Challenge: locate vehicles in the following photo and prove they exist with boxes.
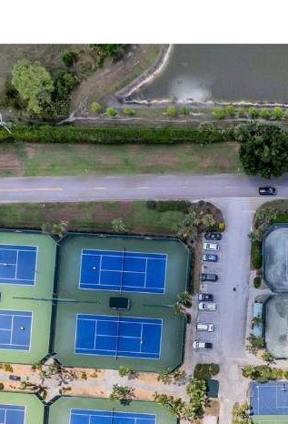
[8,375,18,380]
[202,253,218,261]
[200,272,217,281]
[197,323,213,331]
[203,242,218,250]
[199,293,213,300]
[193,341,212,349]
[259,185,276,194]
[204,231,221,240]
[198,302,216,309]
